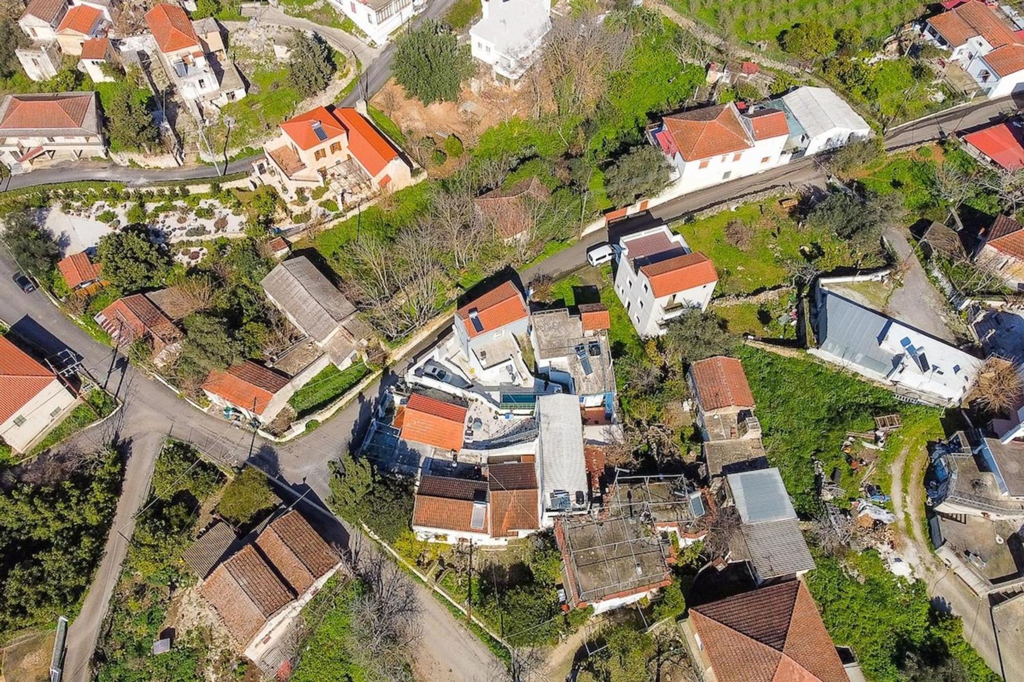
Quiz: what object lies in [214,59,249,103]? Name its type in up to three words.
shed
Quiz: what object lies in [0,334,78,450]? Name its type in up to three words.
building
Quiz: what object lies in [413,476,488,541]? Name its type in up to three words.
house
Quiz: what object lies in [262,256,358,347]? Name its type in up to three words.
barn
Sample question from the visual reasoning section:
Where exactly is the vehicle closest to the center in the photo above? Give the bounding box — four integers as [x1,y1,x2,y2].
[422,362,460,388]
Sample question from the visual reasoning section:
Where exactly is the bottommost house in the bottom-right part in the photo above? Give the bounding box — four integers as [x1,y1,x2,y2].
[686,580,850,682]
